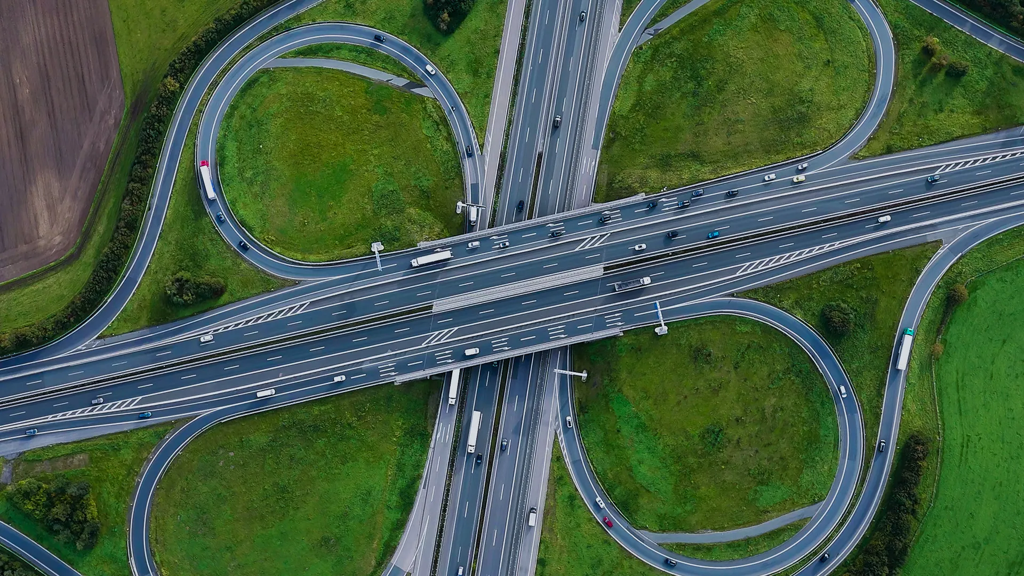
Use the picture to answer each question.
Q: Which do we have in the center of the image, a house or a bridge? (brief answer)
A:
bridge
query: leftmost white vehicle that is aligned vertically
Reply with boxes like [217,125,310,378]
[200,162,217,202]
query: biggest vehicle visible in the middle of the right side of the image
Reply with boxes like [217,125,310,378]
[895,328,913,370]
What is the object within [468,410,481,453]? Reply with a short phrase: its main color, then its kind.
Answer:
white vehicle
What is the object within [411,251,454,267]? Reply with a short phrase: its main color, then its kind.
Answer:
white vehicle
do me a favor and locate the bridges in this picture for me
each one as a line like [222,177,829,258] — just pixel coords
[395,194,648,387]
